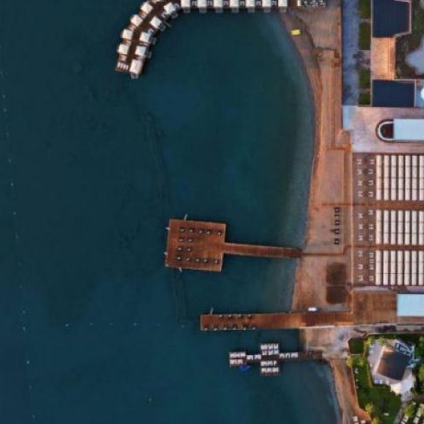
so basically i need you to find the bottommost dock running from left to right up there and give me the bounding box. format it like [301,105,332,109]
[229,343,322,375]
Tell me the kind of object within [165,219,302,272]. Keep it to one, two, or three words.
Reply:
pier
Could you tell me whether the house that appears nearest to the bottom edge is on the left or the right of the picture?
right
